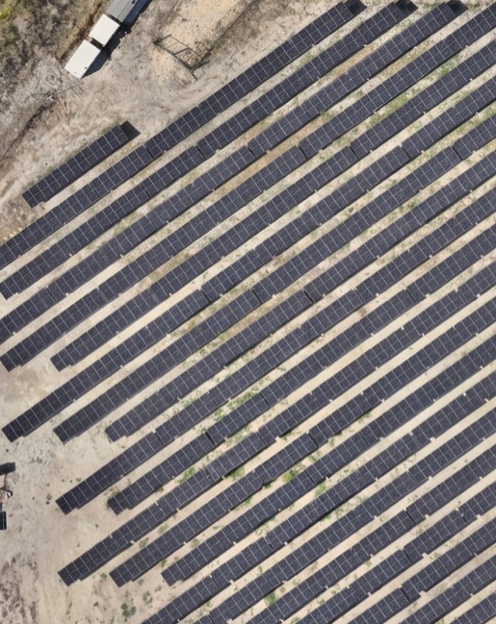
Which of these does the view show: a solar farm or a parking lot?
solar farm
